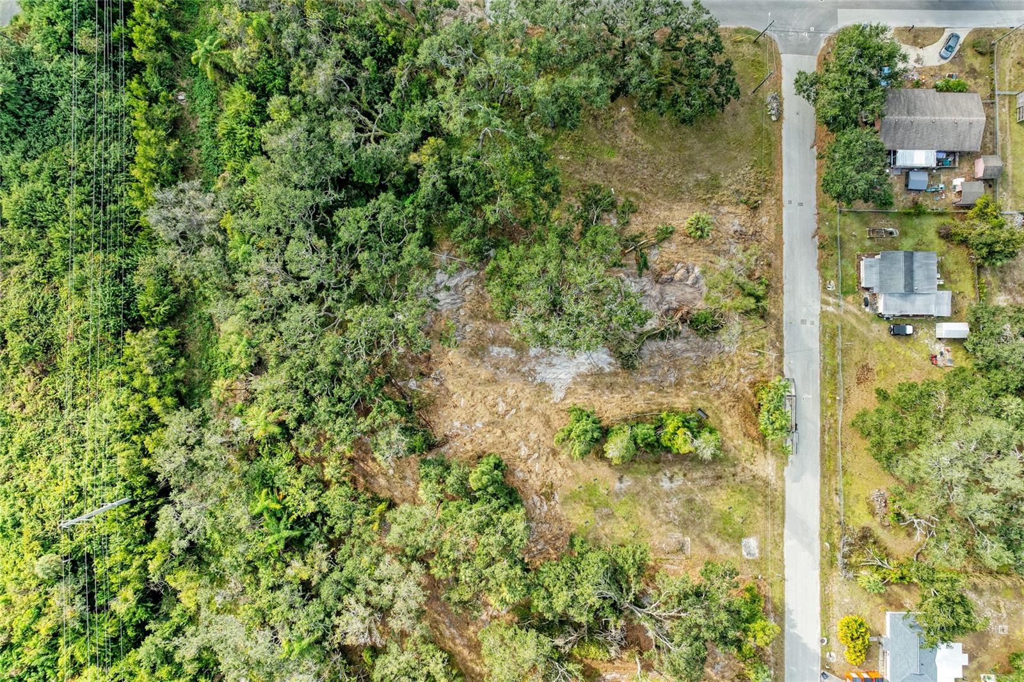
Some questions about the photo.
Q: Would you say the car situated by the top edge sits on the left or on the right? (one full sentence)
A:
It is on the right.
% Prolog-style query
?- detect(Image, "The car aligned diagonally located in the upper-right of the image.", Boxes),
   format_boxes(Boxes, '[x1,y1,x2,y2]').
[941,30,966,59]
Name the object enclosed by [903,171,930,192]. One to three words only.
shed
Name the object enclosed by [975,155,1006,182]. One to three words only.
shed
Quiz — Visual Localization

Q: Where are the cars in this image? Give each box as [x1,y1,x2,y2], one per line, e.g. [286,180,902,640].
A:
[892,323,916,336]
[941,30,966,59]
